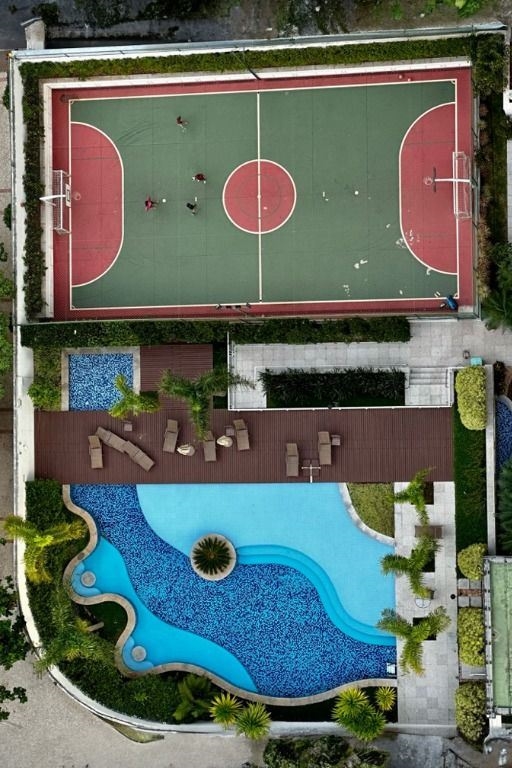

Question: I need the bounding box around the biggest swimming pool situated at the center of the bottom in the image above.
[63,482,403,706]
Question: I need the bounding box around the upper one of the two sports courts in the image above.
[52,68,475,322]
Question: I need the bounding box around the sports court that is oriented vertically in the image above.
[487,555,512,716]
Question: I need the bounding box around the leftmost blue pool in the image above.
[62,348,141,410]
